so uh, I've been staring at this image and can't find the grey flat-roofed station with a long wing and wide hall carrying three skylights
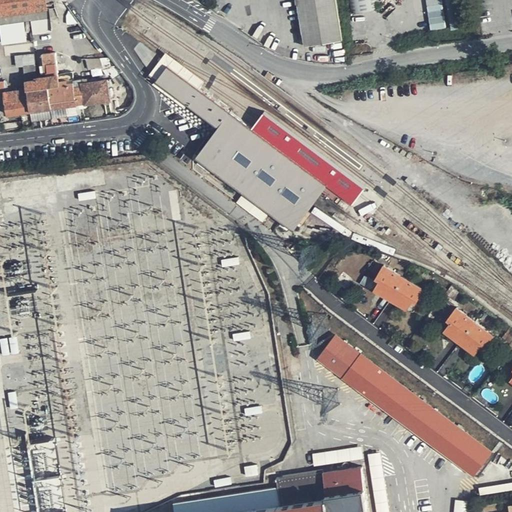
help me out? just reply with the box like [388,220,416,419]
[149,53,325,233]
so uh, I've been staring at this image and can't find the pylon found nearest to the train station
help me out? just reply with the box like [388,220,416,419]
[292,250,316,287]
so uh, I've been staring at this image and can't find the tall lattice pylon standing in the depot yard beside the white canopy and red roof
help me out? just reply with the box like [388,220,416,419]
[317,390,342,436]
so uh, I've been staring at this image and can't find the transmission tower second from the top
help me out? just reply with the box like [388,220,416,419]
[302,316,326,357]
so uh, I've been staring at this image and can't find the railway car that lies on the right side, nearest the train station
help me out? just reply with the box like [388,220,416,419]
[312,205,353,236]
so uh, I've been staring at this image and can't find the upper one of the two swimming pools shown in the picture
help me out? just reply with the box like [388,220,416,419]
[468,364,486,384]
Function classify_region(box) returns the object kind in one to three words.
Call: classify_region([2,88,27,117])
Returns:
house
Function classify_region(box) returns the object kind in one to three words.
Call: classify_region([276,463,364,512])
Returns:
building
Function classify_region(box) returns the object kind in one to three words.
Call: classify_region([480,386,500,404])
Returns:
swimming pool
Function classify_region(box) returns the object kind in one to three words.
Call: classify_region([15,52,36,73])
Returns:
shed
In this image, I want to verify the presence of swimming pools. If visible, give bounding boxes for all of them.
[480,386,500,404]
[468,364,486,384]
